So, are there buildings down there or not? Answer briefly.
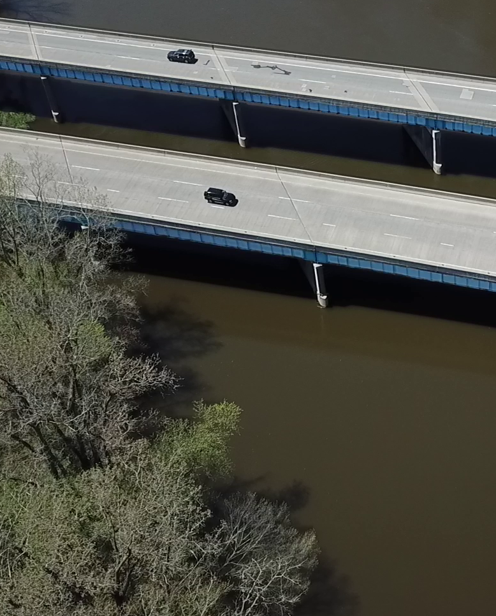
No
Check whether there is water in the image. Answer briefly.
Yes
